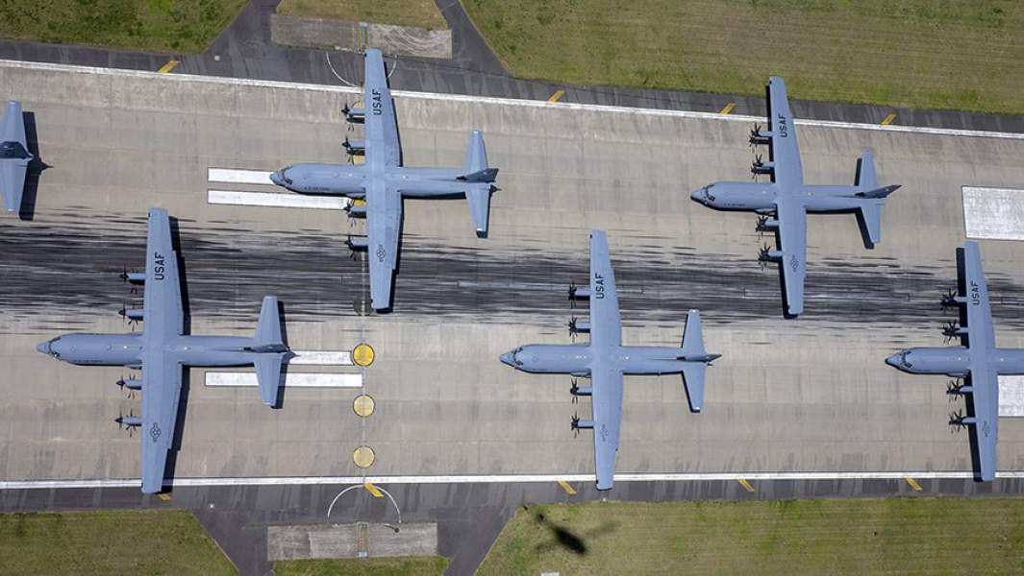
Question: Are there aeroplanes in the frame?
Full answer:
Yes, the picture does show an aeroplane.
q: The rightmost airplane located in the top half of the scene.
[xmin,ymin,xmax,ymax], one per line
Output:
[690,76,899,313]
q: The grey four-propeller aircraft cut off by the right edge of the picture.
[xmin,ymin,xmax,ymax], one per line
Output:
[887,243,1024,480]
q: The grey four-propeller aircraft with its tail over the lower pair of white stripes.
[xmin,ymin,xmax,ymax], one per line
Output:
[38,209,291,492]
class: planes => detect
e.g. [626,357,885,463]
[497,230,721,489]
[690,76,899,313]
[269,49,499,308]
[887,243,1024,480]
[38,209,291,492]
[0,101,33,211]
